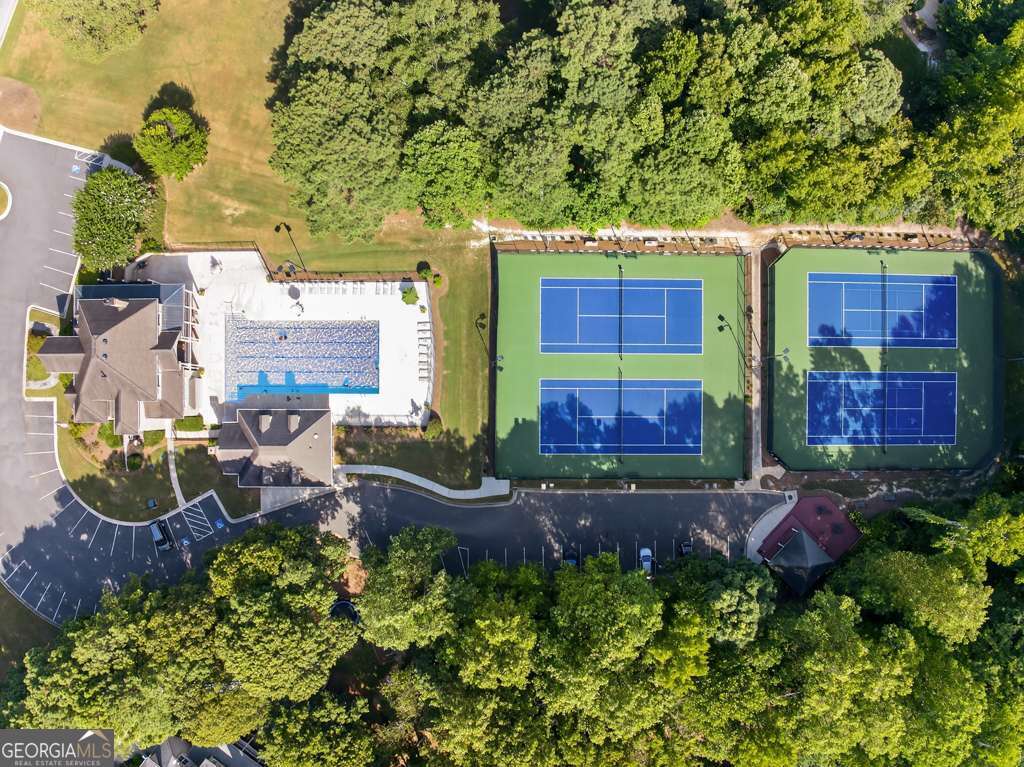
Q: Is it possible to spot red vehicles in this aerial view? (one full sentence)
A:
No, there isn't any red vehicle down there.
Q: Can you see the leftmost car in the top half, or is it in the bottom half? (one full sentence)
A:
It is in the bottom half that the leftmost car appears.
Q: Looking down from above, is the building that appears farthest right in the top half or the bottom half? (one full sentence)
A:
The building that appears farthest right is in the bottom half of the image.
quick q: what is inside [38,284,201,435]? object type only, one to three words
building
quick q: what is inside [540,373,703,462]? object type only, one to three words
tennis court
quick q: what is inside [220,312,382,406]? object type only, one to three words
swimming pool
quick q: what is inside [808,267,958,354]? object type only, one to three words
tennis court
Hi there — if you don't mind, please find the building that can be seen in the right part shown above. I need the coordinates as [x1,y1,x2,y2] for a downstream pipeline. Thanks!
[765,527,835,595]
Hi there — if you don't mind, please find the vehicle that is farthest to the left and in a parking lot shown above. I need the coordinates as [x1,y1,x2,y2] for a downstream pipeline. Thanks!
[147,520,172,553]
